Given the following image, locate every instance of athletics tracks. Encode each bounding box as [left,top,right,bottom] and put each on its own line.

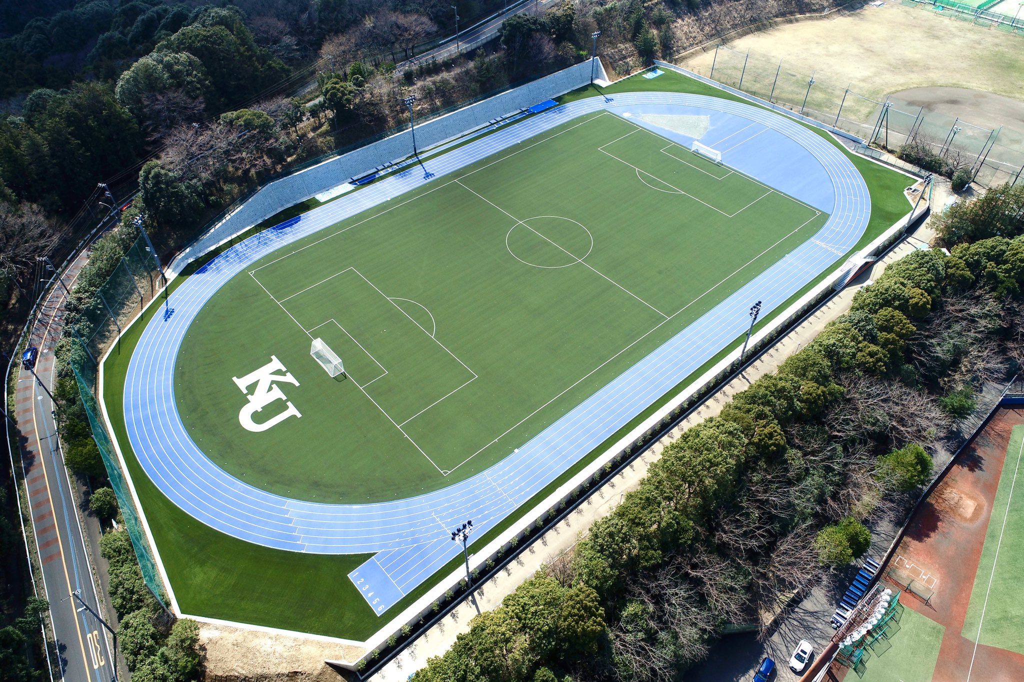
[125,92,870,616]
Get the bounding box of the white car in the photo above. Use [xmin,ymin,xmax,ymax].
[789,638,813,673]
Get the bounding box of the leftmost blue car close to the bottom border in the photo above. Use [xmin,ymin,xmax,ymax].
[753,655,775,682]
